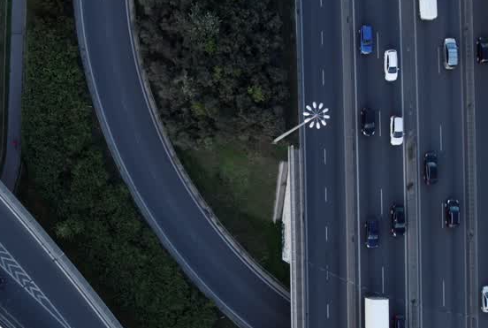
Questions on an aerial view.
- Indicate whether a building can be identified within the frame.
No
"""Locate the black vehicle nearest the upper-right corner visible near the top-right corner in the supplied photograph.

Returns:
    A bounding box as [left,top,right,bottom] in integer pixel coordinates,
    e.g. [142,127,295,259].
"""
[475,38,488,64]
